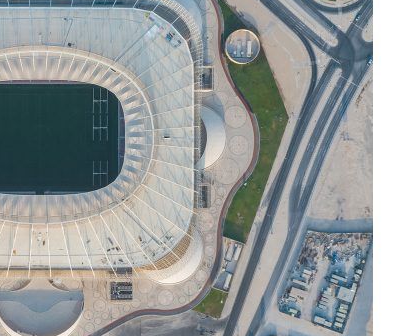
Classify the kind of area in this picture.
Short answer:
sports ground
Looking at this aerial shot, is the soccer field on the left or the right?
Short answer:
left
